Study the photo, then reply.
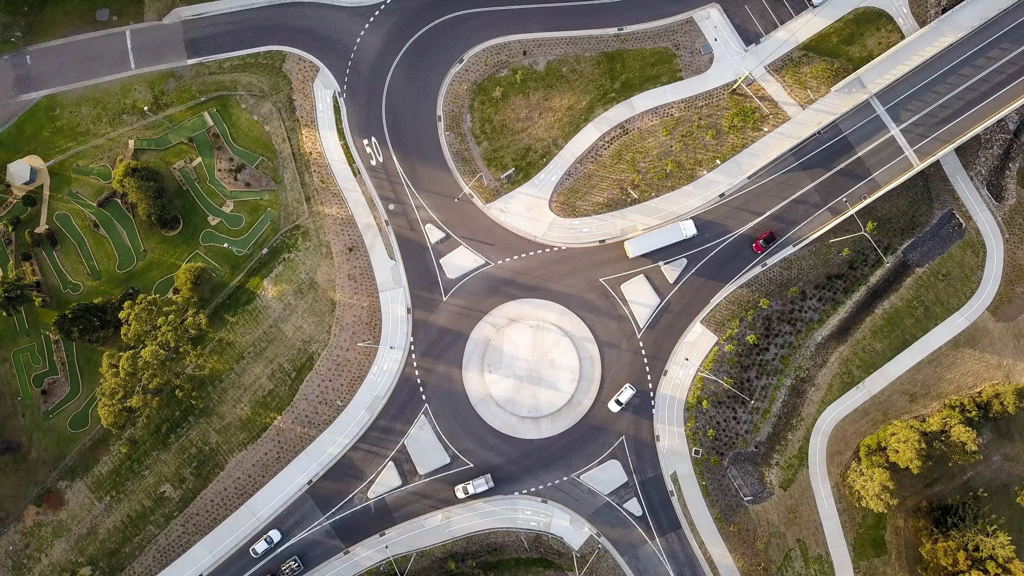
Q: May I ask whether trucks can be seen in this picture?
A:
Yes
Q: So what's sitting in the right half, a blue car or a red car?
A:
red car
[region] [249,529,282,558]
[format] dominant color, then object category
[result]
white car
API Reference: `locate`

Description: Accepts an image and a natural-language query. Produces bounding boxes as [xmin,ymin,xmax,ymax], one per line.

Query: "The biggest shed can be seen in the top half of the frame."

[6,159,43,187]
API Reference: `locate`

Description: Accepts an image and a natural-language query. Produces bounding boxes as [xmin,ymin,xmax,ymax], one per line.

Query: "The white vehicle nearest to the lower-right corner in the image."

[607,381,638,413]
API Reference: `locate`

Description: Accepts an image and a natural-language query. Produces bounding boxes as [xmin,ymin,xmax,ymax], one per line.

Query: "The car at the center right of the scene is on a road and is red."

[751,228,779,254]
